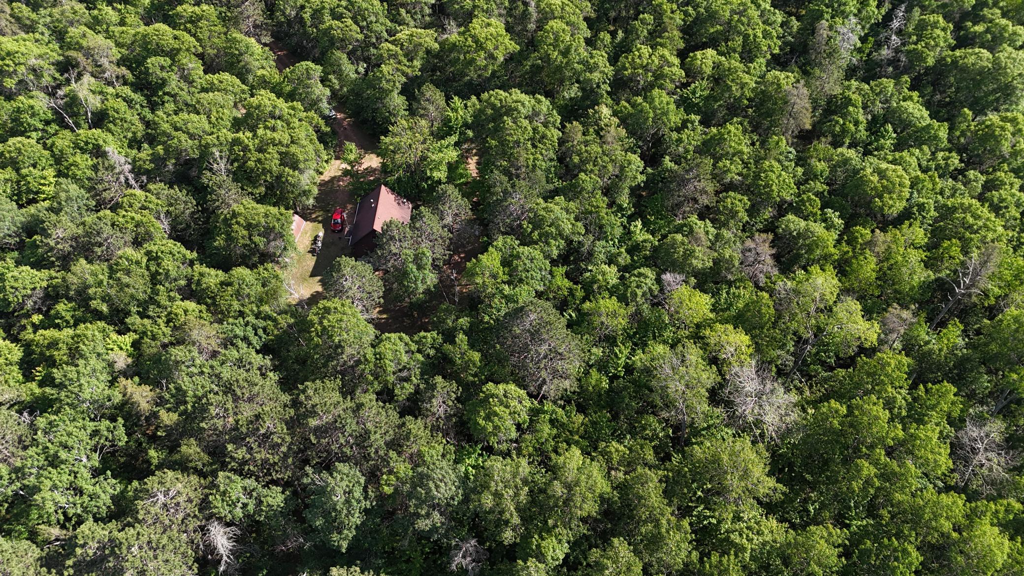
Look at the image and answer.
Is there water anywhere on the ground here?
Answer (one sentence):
No, the picture contains no water.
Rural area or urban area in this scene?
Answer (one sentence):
It looks rural.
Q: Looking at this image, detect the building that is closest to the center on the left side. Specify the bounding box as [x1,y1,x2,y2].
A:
[341,185,414,254]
